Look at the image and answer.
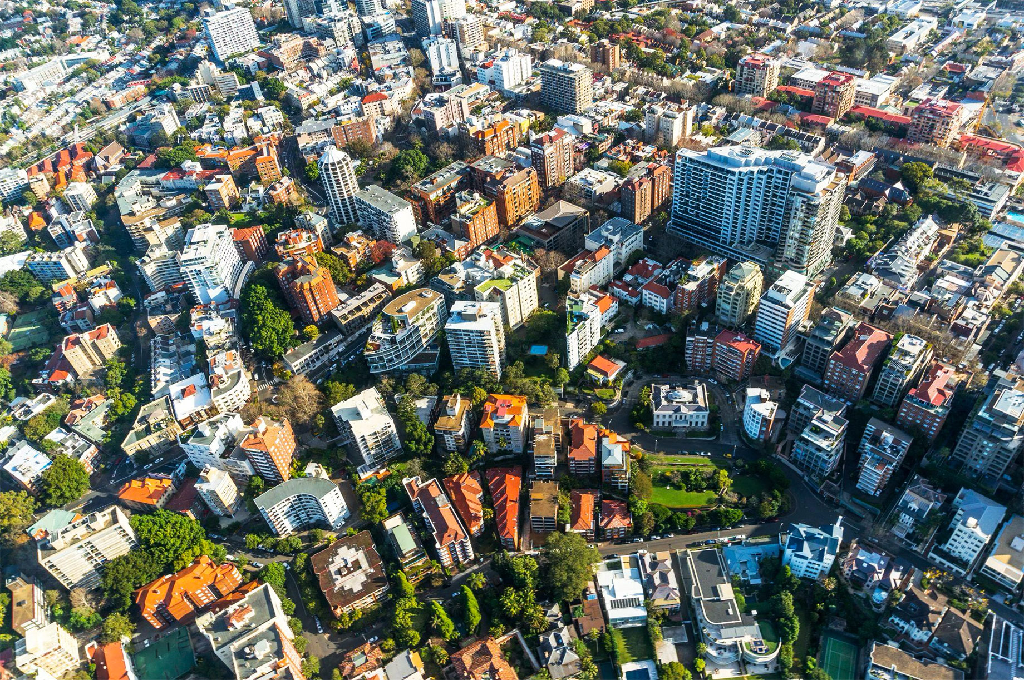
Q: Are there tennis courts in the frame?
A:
Yes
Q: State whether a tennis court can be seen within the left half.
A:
Yes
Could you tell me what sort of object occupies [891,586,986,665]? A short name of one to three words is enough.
house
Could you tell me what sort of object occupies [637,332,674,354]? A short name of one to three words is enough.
house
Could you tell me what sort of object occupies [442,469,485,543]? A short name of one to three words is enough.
building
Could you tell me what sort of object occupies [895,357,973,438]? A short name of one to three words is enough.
building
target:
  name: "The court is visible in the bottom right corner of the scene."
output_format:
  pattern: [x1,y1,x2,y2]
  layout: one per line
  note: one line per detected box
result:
[815,625,868,680]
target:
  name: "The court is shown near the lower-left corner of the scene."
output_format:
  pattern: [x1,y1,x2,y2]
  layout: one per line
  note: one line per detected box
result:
[127,628,198,680]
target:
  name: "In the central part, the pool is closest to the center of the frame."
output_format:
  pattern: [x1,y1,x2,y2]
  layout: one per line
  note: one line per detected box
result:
[528,344,550,356]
